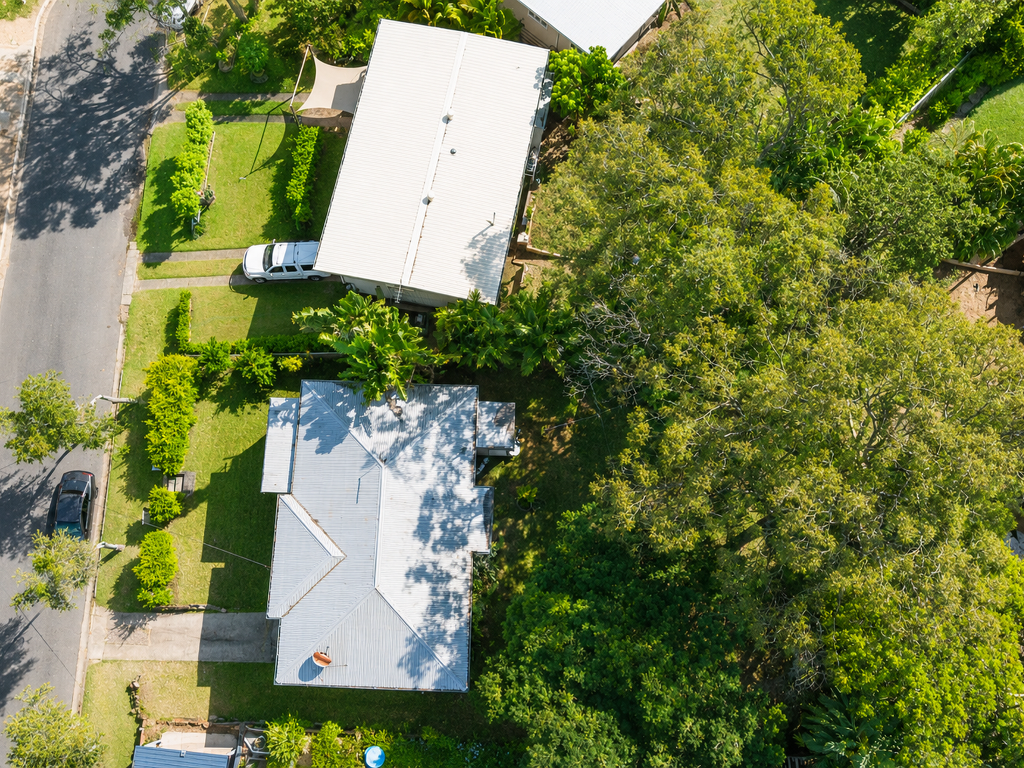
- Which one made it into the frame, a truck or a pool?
truck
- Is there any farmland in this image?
No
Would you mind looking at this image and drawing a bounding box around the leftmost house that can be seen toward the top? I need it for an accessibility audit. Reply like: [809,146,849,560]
[312,19,555,319]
